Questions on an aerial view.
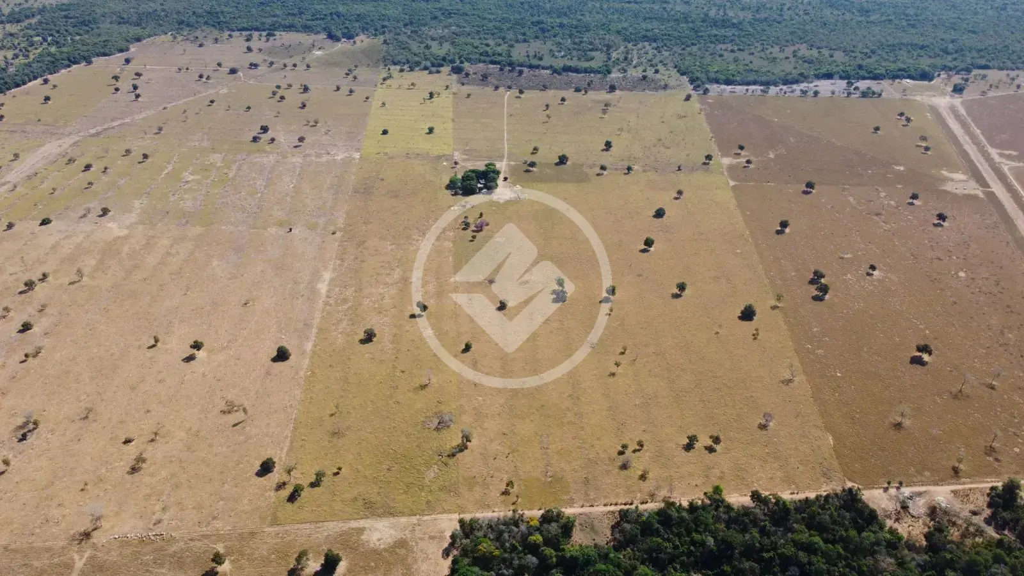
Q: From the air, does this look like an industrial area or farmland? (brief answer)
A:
farmland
